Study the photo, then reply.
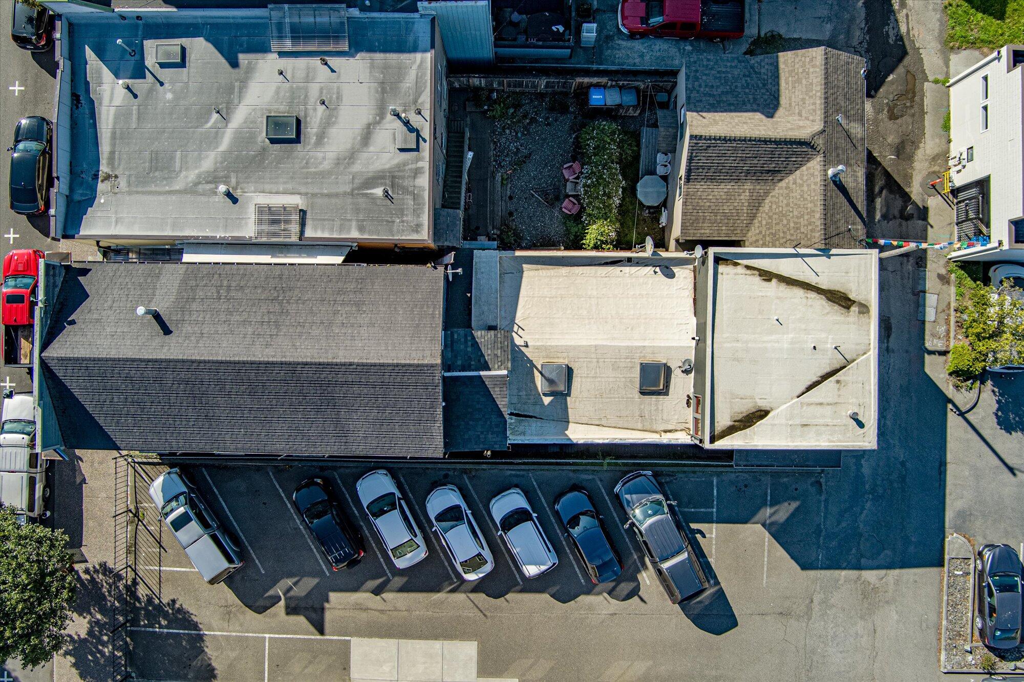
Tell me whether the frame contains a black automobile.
Yes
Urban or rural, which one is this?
urban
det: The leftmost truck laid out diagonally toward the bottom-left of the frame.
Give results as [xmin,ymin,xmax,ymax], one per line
[151,470,248,589]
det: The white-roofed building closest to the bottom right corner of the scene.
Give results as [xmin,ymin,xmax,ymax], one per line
[692,249,877,449]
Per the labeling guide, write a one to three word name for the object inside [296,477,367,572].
car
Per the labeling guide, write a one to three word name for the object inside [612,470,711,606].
truck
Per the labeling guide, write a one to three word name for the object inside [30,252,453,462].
building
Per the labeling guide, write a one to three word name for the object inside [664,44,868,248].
house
